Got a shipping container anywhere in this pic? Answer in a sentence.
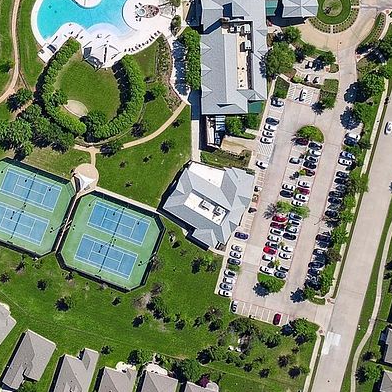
No, there is no shipping container in the image.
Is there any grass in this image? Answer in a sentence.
Yes, grass can be seen from above here.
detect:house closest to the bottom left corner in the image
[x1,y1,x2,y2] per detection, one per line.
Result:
[4,328,55,392]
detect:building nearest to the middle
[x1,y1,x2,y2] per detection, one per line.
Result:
[161,160,254,249]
